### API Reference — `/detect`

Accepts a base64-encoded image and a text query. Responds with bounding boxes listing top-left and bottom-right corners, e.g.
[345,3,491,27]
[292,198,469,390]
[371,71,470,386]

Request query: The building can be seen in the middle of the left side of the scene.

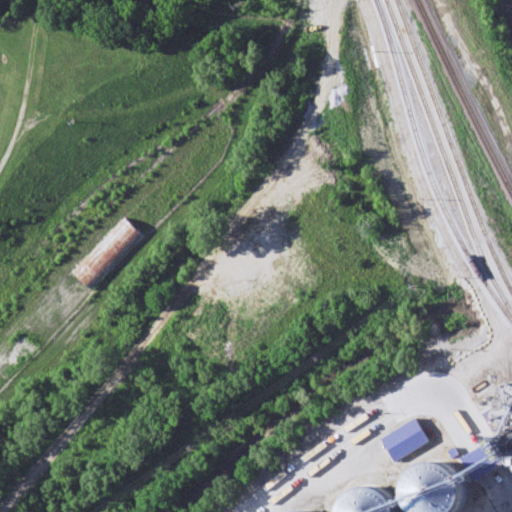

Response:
[72,216,144,291]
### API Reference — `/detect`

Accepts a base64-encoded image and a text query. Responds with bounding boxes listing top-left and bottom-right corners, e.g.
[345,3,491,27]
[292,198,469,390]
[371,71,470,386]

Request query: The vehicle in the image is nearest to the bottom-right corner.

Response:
[454,410,478,444]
